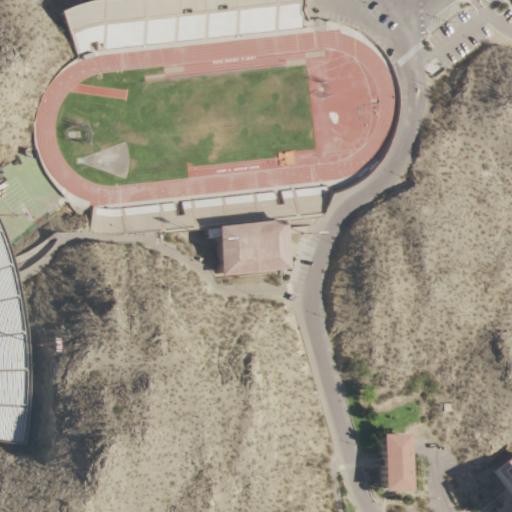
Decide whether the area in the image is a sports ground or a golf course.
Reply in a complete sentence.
The area seen from above is a sports ground.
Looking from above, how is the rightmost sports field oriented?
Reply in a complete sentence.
What the image shows is the rightmost sports field lying from side to side.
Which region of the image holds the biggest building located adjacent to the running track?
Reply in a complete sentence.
You can find the biggest building located adjacent to the running track in the center area of the picture.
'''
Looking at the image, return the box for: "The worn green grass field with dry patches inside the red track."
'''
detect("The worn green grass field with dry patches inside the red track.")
[53,49,336,186]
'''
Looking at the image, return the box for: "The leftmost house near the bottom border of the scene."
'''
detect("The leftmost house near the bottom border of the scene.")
[378,434,417,491]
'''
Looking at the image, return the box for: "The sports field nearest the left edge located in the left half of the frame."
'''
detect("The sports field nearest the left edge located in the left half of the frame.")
[0,152,60,243]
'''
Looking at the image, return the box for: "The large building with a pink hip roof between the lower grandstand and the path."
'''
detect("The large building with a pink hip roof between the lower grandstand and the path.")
[206,220,293,274]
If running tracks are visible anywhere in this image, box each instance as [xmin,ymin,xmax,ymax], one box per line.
[34,30,398,204]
